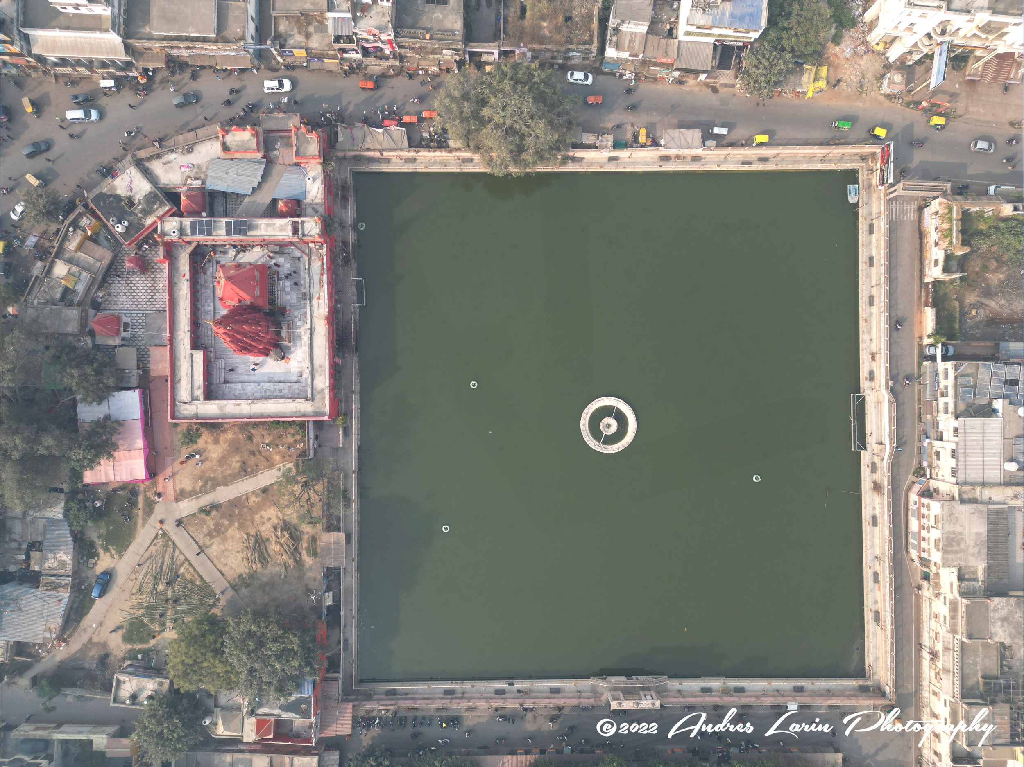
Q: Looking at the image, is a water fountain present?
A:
Yes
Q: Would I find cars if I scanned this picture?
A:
Yes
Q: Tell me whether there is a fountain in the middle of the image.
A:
Yes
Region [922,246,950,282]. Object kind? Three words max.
house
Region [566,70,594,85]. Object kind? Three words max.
car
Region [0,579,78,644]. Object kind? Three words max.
shed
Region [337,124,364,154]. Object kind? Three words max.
tent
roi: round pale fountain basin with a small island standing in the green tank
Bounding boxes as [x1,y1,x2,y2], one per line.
[580,397,637,453]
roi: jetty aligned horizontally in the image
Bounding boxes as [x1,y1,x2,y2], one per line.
[590,672,669,693]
